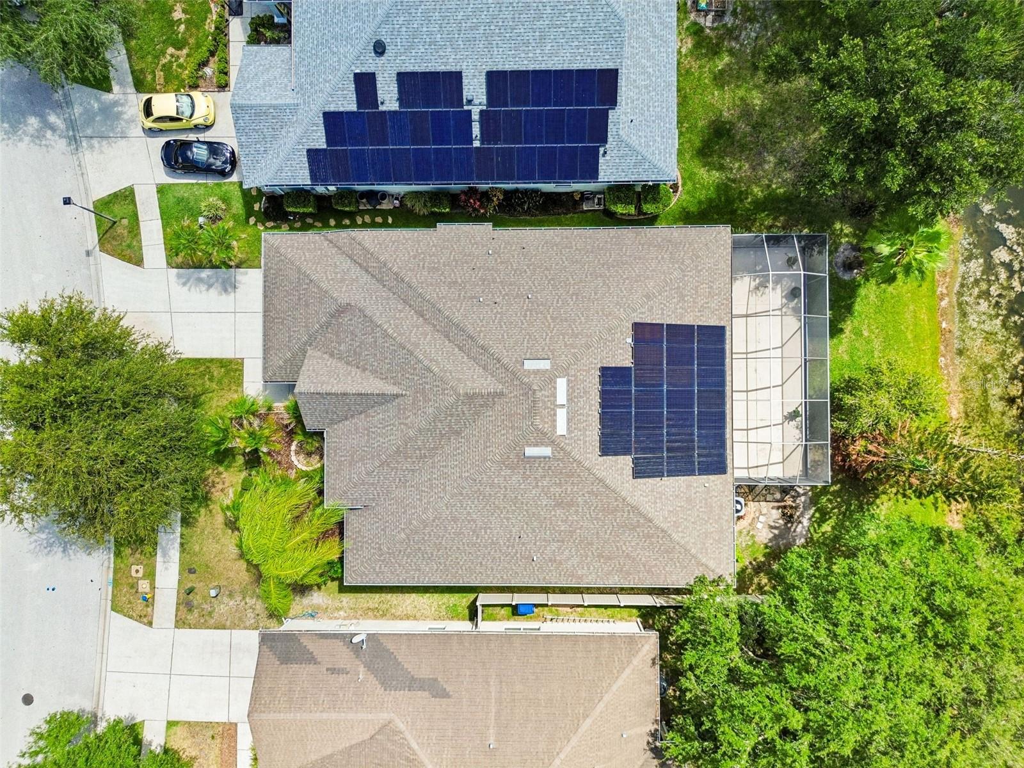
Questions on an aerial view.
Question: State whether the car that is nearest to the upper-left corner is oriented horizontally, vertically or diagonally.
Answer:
horizontally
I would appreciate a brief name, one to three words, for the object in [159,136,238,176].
car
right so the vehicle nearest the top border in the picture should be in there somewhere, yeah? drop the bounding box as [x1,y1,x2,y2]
[138,87,216,128]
